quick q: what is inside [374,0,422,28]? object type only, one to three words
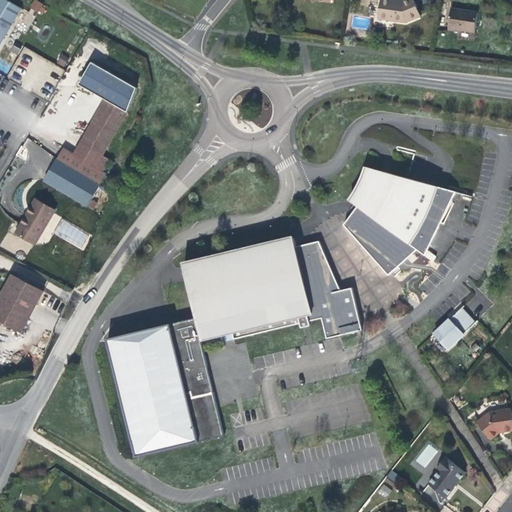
house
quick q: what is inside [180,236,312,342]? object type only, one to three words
building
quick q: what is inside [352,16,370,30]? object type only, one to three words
swimming pool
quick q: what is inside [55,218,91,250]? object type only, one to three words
swimming pool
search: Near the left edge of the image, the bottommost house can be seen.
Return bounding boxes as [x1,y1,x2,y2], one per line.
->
[0,274,44,334]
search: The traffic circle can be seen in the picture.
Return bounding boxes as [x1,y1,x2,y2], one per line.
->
[205,67,309,152]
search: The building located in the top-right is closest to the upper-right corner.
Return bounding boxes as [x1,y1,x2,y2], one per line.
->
[446,2,480,34]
